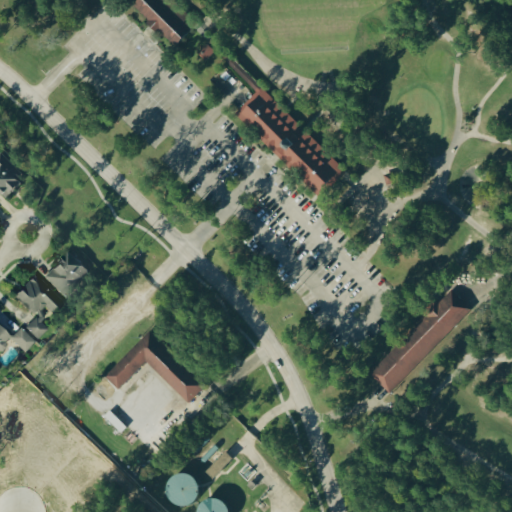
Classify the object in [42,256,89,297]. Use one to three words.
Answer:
house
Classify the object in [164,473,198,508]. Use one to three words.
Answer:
water tank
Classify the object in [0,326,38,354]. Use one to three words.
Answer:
house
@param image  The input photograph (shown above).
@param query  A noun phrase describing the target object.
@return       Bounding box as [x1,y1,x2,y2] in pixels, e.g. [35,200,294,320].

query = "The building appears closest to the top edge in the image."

[128,0,188,45]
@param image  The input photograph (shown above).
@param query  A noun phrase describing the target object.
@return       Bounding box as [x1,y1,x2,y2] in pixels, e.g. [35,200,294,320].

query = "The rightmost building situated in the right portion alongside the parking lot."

[377,295,467,388]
